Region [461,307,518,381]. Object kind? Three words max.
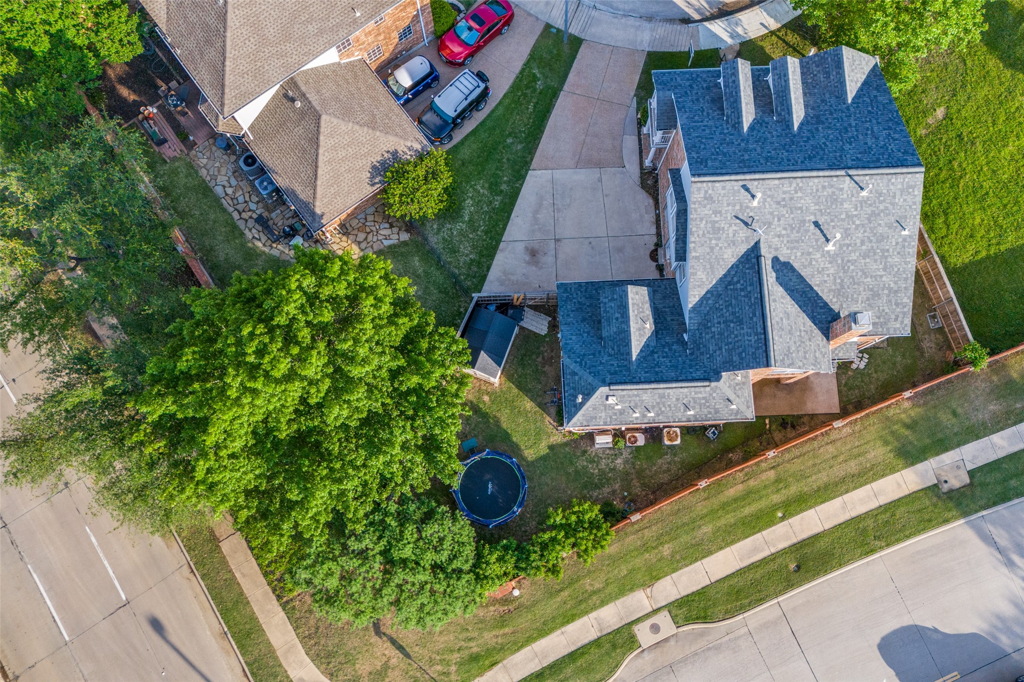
shed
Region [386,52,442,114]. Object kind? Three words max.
car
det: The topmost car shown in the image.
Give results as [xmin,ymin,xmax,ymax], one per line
[437,0,518,68]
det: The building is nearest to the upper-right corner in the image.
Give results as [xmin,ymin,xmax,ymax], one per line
[556,44,924,434]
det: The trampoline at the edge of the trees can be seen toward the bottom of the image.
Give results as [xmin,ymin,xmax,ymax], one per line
[450,449,529,528]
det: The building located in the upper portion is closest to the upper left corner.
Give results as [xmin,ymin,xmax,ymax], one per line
[139,0,439,240]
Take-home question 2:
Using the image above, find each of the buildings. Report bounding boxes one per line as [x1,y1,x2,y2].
[461,307,518,381]
[139,0,439,240]
[556,44,924,434]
